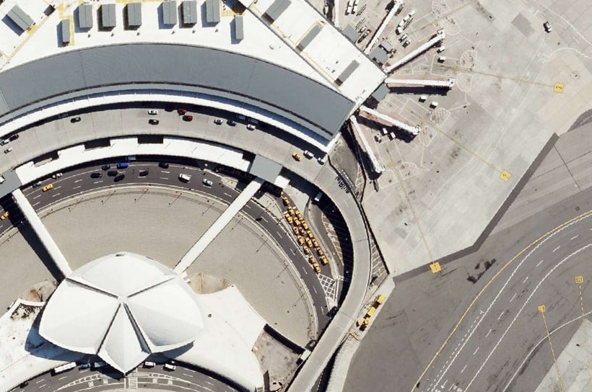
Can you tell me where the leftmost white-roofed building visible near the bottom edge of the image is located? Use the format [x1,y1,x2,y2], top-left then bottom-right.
[0,252,265,392]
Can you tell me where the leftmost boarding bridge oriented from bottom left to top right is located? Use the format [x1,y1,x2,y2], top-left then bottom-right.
[363,0,403,55]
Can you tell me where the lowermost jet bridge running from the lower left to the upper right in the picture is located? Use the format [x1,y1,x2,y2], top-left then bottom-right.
[383,29,448,73]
